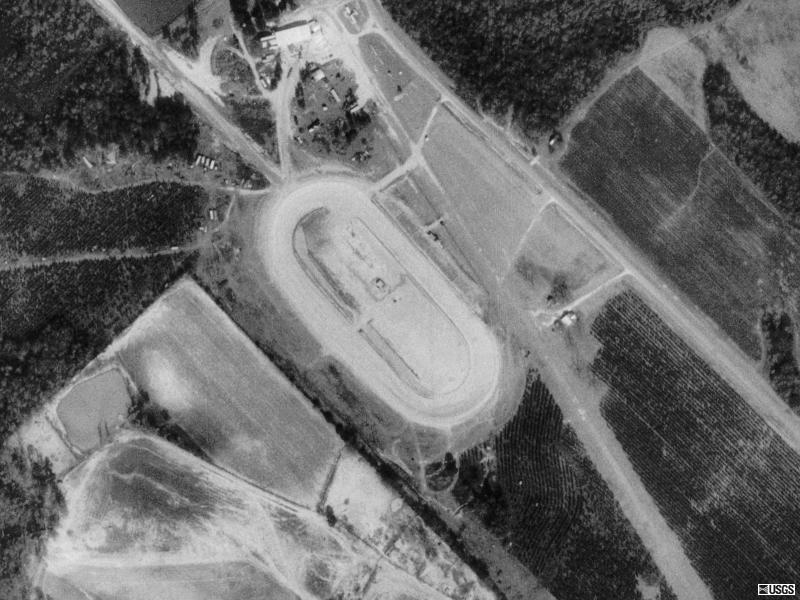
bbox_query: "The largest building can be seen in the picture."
[276,24,312,46]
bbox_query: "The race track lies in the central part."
[258,177,499,422]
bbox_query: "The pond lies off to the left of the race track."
[57,368,131,453]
